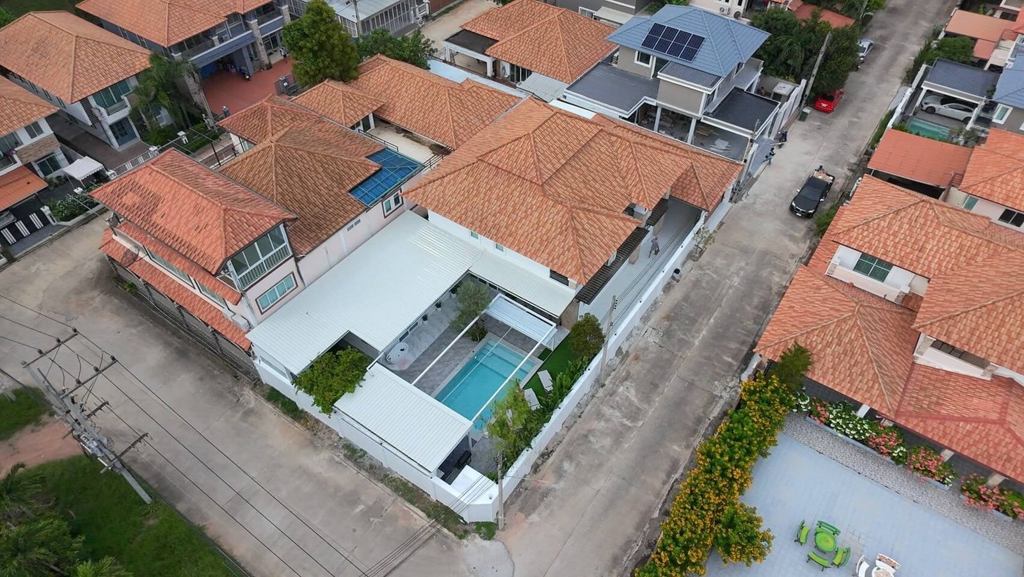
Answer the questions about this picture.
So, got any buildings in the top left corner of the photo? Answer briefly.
Yes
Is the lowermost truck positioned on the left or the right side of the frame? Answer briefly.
right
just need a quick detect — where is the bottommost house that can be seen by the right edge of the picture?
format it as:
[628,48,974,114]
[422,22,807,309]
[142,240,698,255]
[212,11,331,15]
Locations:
[756,174,1024,489]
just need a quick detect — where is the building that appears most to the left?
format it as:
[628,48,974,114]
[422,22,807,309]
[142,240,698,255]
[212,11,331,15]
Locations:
[0,76,69,213]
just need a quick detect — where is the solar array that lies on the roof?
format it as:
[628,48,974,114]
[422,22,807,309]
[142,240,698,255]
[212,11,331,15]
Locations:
[639,14,704,57]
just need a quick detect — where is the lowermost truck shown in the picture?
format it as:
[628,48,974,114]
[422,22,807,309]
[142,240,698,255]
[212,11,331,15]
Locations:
[790,166,840,217]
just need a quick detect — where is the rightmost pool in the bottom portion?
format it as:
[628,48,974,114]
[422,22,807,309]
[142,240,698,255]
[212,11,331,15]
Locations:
[430,330,545,444]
